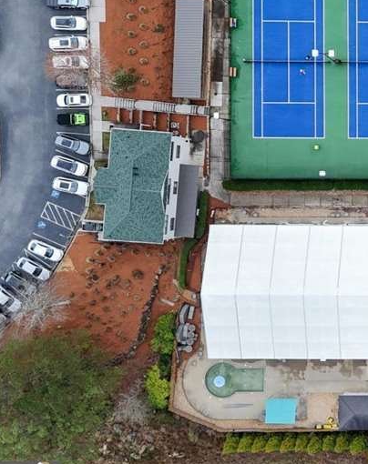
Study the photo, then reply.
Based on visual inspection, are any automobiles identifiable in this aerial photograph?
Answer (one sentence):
Yes, this view includes an automobile.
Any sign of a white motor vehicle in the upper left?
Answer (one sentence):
Yes, the scene does show a white motor vehicle in the upper left.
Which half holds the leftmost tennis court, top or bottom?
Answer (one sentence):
The leftmost tennis court sits in the top half of the picture.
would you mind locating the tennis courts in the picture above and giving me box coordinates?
[230,0,336,179]
[336,0,368,179]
